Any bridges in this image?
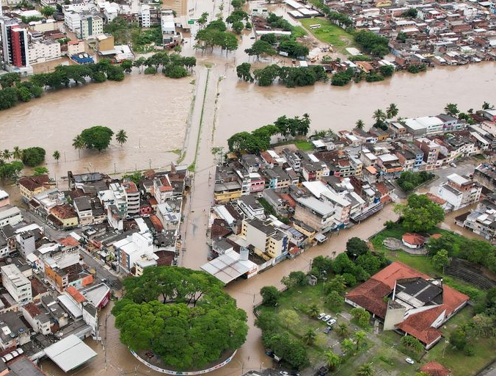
Yes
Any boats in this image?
No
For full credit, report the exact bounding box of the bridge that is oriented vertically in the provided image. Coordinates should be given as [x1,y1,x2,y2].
[176,66,221,169]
